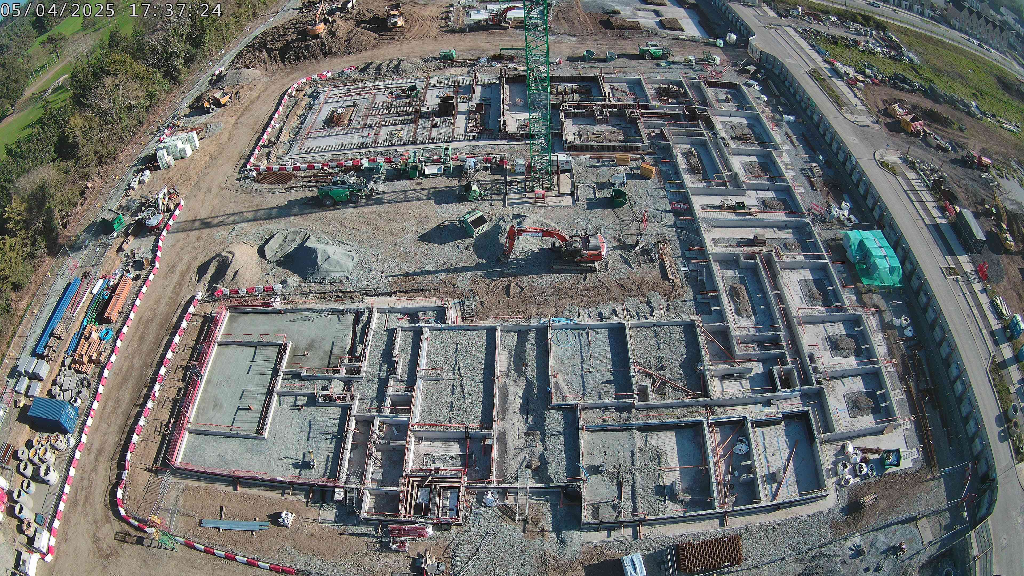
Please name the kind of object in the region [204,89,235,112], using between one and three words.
truck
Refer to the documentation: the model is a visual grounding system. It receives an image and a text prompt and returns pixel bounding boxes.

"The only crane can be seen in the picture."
[521,0,556,199]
